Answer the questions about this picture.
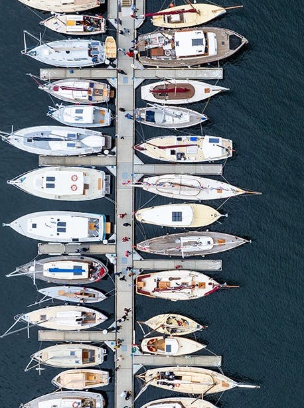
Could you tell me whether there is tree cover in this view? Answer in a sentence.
No, the picture contains no tree cover.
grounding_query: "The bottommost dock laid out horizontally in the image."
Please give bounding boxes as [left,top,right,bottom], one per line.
[133,345,222,377]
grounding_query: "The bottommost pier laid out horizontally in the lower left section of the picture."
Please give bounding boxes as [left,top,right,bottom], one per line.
[37,321,115,351]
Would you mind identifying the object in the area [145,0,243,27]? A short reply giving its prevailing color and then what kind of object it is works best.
white boat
